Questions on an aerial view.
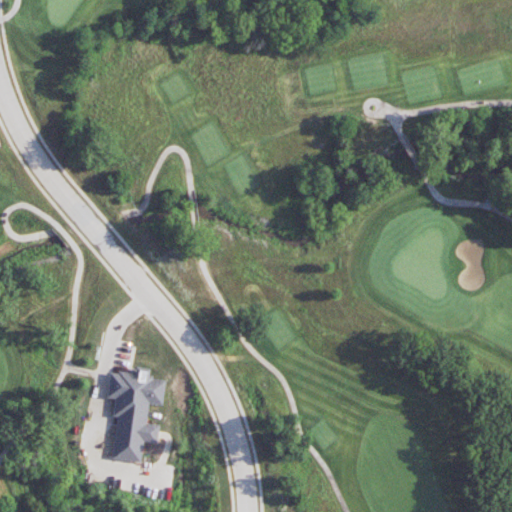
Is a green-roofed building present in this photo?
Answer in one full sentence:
No, the scene contains no green-roofed building.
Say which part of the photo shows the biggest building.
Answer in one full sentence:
The biggest building sits in the bottom left section of the image.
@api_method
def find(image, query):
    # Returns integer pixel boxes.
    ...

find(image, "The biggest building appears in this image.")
[108,367,166,462]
